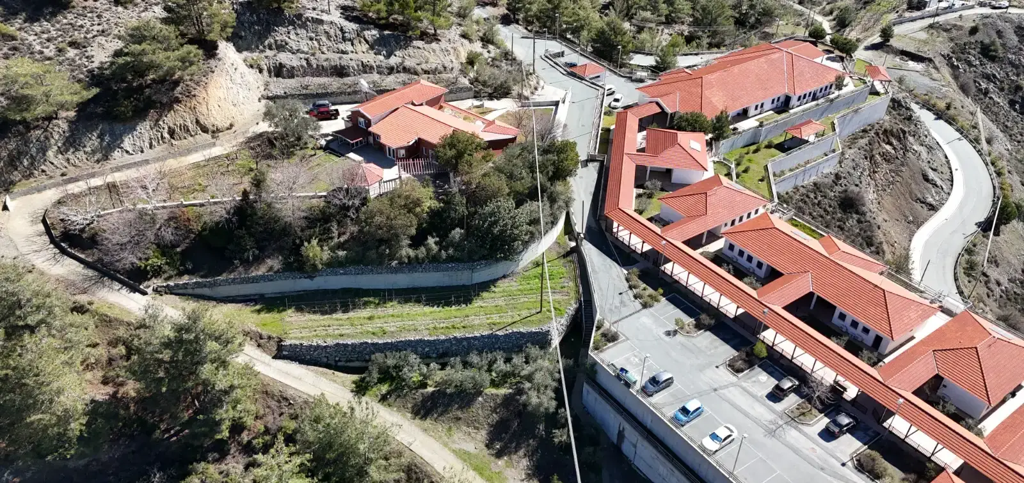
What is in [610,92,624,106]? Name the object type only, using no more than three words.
car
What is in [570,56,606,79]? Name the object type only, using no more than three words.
building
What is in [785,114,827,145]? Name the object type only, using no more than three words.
building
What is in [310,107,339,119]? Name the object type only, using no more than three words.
vehicle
